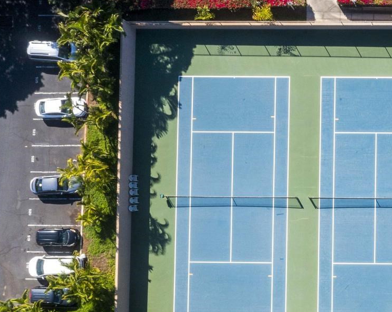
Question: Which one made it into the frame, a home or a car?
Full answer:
The one in the frame is a car.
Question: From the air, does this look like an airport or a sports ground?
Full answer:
The area seen from above is a sports ground.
